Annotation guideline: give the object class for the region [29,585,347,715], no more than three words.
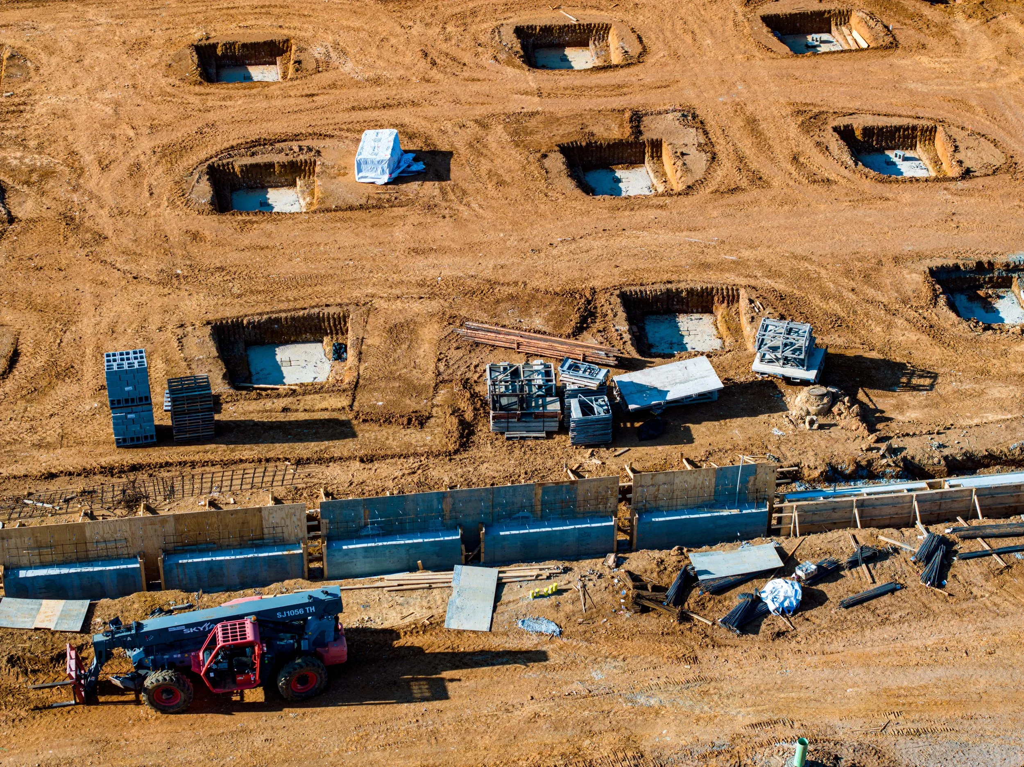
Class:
work vehicle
